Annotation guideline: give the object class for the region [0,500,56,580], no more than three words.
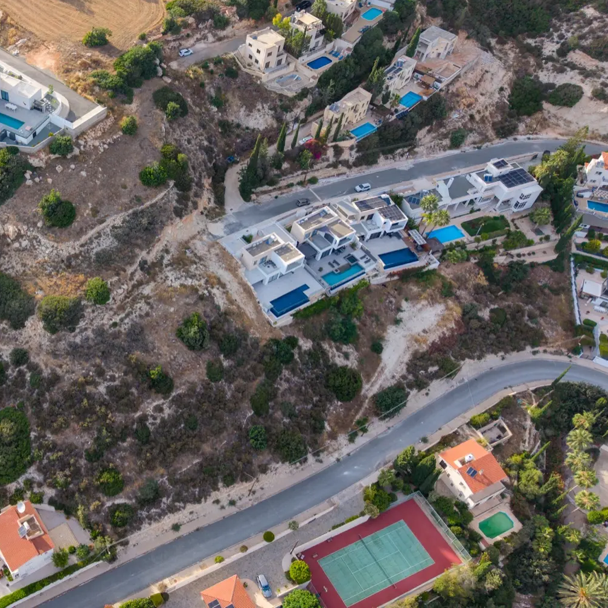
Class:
house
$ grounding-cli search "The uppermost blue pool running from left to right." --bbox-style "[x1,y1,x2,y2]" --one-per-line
[306,56,333,70]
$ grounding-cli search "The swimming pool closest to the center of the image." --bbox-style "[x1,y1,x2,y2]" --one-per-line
[270,283,310,315]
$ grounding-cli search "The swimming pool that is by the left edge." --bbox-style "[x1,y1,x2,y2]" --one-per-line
[0,112,25,129]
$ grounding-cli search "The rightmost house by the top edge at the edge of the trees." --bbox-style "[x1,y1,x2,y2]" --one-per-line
[414,27,457,59]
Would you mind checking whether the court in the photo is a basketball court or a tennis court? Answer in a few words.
tennis court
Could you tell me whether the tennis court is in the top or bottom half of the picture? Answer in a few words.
bottom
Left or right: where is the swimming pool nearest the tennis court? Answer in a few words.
right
